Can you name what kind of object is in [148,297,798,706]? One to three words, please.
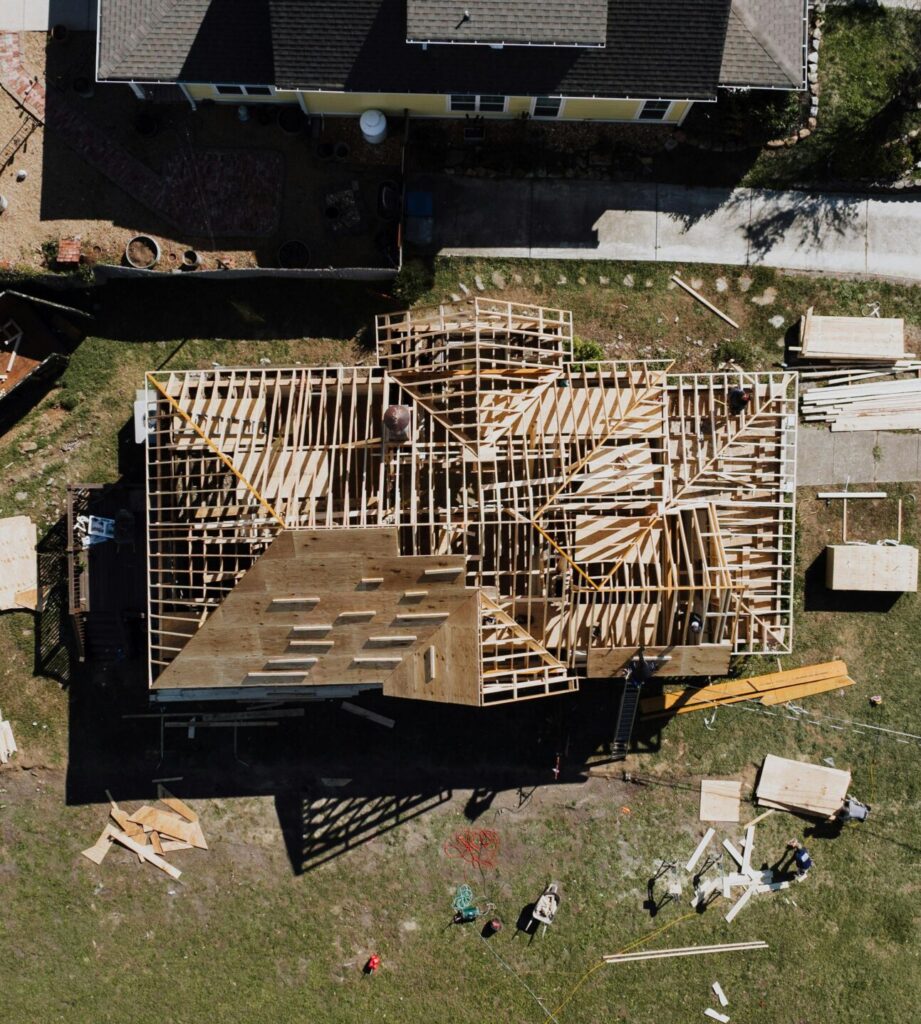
house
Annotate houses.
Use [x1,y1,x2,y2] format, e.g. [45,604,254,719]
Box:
[148,297,798,706]
[93,0,816,129]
